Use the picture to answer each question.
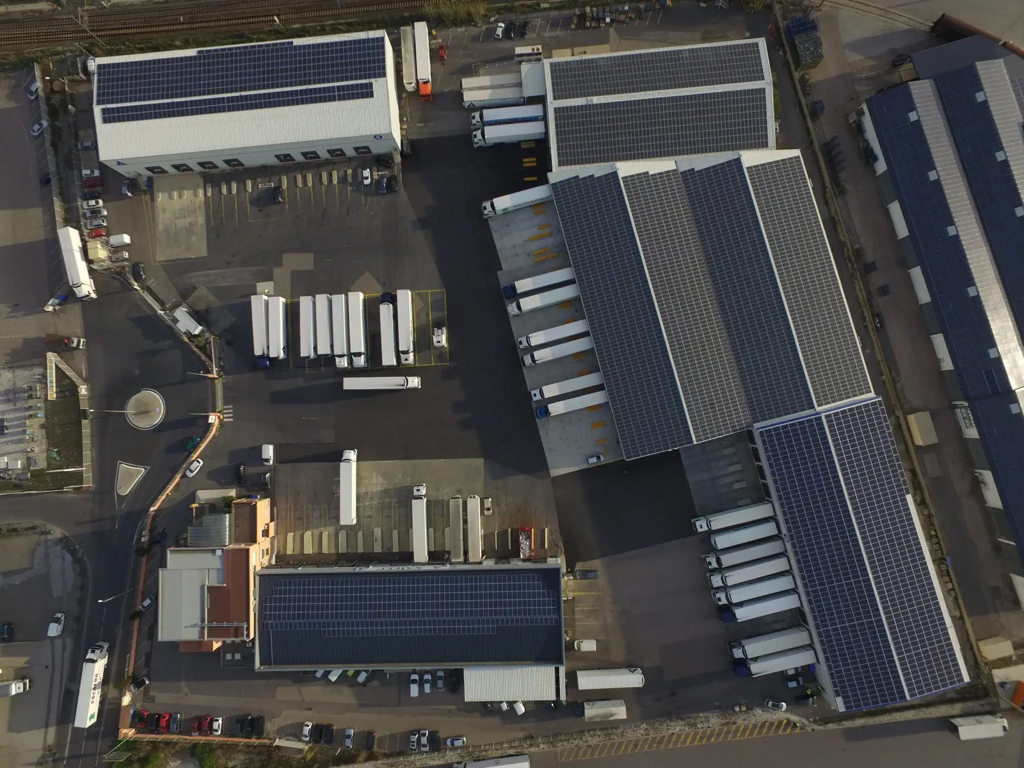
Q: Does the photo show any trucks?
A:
Yes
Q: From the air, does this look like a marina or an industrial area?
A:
industrial area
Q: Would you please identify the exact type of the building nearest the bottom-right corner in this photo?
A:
warehouse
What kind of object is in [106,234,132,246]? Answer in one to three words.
vehicle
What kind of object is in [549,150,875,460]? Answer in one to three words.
warehouse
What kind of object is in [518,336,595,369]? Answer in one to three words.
truck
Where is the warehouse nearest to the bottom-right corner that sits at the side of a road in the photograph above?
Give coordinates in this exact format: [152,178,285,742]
[744,395,971,713]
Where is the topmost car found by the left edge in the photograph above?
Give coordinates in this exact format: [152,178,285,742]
[26,81,41,98]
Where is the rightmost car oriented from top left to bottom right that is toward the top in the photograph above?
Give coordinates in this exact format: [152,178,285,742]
[375,155,395,171]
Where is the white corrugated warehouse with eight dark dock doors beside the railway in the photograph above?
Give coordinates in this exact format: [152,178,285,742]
[93,29,400,175]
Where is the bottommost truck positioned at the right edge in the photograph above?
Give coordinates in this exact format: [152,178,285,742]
[949,716,1012,740]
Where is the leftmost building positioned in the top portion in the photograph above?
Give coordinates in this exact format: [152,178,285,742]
[87,241,108,261]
